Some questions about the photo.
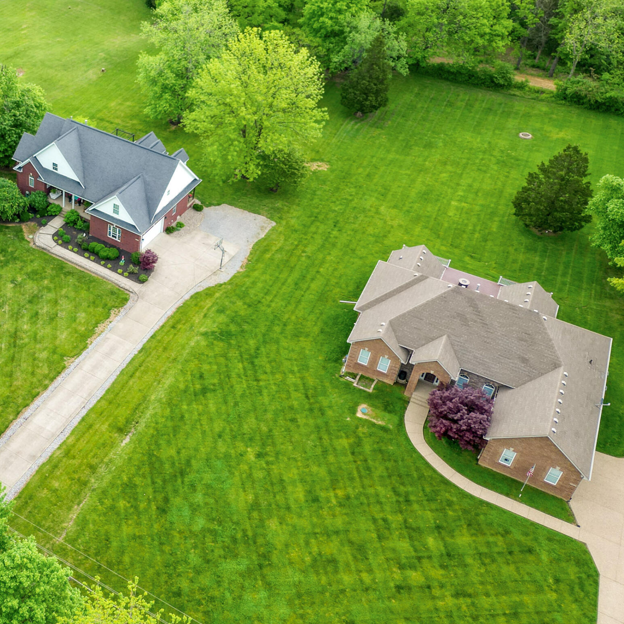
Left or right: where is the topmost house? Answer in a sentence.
The topmost house is on the left side of the image.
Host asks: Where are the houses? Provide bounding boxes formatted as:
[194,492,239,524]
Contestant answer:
[346,244,619,502]
[12,114,204,252]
